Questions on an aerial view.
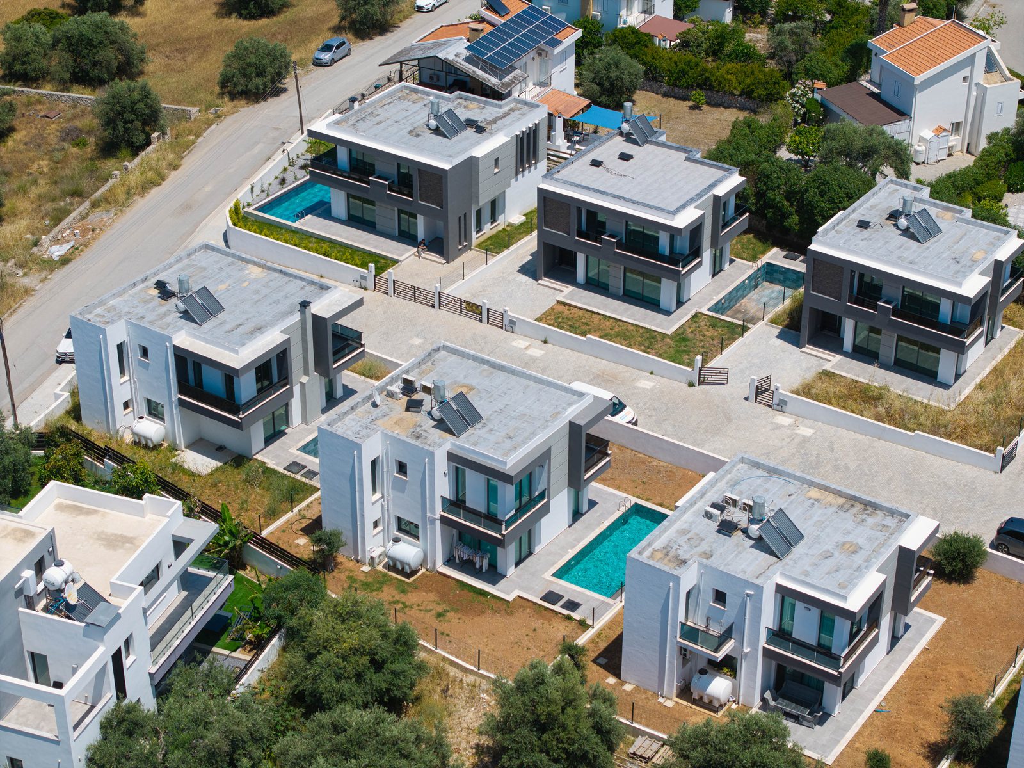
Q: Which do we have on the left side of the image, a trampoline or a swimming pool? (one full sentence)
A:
Looking on the left side of the image, you will find a swimming pool.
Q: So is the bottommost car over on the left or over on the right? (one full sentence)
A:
It is on the right.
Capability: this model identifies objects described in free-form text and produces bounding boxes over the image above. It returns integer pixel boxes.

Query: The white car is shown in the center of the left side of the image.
[55,331,73,359]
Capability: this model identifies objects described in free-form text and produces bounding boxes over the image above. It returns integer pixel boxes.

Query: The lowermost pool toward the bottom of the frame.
[542,496,673,604]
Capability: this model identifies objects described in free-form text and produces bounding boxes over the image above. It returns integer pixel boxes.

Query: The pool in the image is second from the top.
[698,254,805,325]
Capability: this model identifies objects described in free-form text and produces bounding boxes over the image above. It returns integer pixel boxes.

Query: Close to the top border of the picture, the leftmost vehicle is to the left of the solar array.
[316,34,362,65]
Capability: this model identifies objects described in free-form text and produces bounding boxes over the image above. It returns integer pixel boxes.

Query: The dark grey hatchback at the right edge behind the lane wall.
[992,516,1024,558]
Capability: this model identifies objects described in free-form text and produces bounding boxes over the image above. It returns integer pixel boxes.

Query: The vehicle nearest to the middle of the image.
[565,376,639,429]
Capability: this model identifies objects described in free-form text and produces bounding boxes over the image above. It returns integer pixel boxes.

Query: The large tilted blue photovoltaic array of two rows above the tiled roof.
[465,5,585,104]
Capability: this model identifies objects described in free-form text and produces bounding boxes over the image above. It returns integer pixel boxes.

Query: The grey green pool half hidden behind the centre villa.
[287,430,319,463]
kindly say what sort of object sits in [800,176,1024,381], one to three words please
house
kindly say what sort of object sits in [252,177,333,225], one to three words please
swimming pool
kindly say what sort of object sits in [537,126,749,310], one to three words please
house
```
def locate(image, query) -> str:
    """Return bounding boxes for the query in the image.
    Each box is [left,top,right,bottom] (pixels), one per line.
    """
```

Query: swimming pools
[698,254,805,325]
[542,496,673,604]
[287,430,319,463]
[252,177,333,225]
